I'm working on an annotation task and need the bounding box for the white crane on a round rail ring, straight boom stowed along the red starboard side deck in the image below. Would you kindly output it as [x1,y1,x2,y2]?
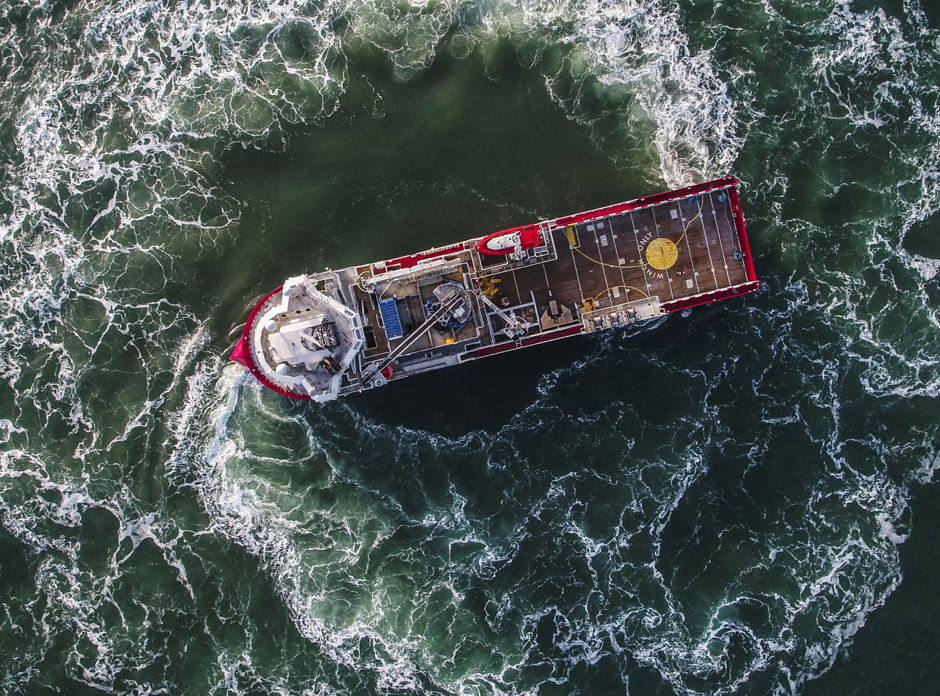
[356,259,445,292]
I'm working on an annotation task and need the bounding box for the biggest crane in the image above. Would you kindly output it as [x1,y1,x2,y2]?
[355,282,474,387]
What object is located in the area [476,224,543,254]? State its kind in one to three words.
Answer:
boat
